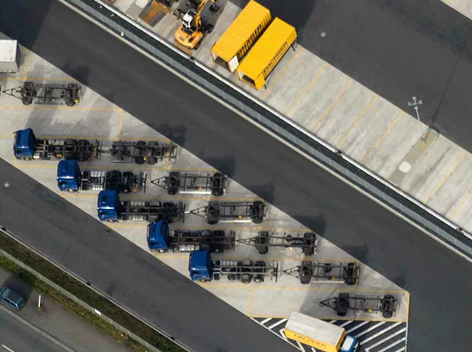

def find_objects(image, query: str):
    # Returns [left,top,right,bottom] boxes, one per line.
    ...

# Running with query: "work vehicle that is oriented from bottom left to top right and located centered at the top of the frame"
[167,0,227,53]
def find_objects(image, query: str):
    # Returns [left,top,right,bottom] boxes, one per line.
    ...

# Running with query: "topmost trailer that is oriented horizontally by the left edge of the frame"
[2,83,84,106]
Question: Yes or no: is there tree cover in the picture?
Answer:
No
